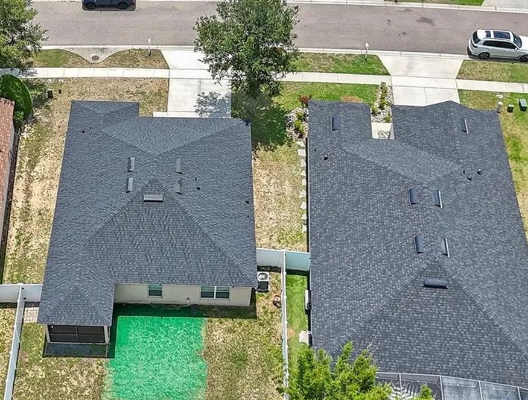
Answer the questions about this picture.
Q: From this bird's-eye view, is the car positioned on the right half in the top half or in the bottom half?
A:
top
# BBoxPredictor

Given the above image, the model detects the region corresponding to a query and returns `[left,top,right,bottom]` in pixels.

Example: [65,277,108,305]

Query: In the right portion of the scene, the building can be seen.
[309,99,528,400]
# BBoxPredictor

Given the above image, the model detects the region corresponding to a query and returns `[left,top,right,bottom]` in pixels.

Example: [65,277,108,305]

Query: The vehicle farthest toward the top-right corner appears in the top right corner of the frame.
[473,32,528,64]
